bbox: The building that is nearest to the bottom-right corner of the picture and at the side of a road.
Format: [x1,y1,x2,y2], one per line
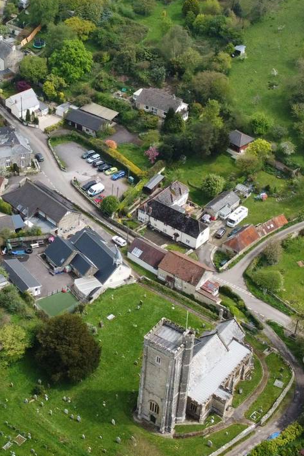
[136,311,254,432]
